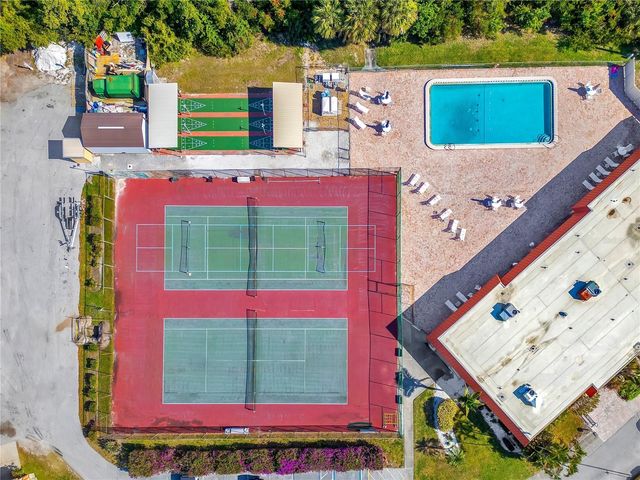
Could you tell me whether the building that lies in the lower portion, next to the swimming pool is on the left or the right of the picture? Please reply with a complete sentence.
The building that lies in the lower portion, next to the swimming pool sits on the right side.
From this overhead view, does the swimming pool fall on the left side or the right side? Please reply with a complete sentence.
The swimming pool sits on the right side.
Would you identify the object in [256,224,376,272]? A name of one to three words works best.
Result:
sports court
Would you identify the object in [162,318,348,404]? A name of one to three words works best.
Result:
tennis court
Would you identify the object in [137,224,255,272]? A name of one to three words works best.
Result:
sports court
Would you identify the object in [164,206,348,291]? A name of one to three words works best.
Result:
tennis court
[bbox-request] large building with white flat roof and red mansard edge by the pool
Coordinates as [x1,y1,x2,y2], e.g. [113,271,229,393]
[427,148,640,445]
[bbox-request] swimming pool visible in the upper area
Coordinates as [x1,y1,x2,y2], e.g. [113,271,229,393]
[425,78,557,148]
